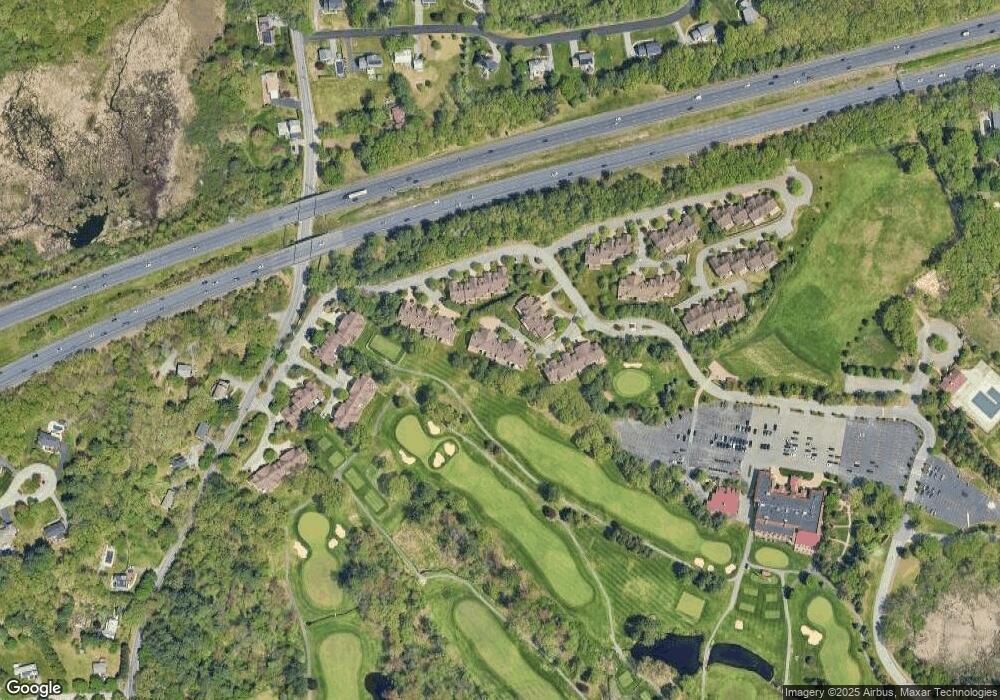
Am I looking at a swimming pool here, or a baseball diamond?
swimming pool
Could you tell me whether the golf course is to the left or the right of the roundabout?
to the left of it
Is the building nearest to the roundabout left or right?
right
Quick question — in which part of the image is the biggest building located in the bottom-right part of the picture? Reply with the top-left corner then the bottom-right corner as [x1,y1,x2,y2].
[750,465,826,556]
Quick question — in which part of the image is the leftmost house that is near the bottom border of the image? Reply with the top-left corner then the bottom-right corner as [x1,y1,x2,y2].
[15,666,38,682]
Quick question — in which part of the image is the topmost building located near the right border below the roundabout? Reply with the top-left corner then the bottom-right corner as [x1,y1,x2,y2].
[938,367,970,397]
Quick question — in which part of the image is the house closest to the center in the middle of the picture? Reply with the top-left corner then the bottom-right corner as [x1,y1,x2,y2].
[471,331,527,367]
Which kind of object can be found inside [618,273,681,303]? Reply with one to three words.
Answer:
house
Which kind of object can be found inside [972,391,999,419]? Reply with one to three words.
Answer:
swimming pool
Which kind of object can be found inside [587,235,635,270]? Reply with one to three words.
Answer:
house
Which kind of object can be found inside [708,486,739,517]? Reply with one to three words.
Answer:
building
